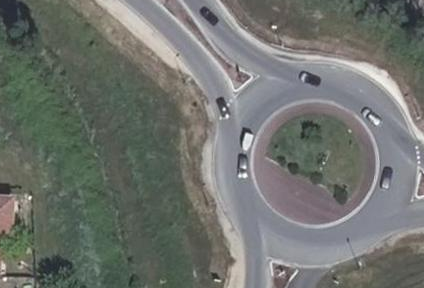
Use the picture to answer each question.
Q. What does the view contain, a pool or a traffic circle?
traffic circle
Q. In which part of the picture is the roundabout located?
right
